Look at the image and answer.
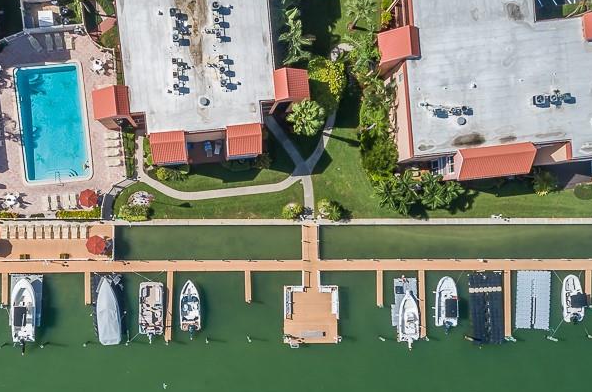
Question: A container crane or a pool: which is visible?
pool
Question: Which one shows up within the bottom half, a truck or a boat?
boat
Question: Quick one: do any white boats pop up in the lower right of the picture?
Yes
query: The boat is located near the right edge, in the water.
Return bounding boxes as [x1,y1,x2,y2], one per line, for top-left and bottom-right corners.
[560,274,589,326]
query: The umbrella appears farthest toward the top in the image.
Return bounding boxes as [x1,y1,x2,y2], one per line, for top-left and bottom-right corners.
[79,189,99,209]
